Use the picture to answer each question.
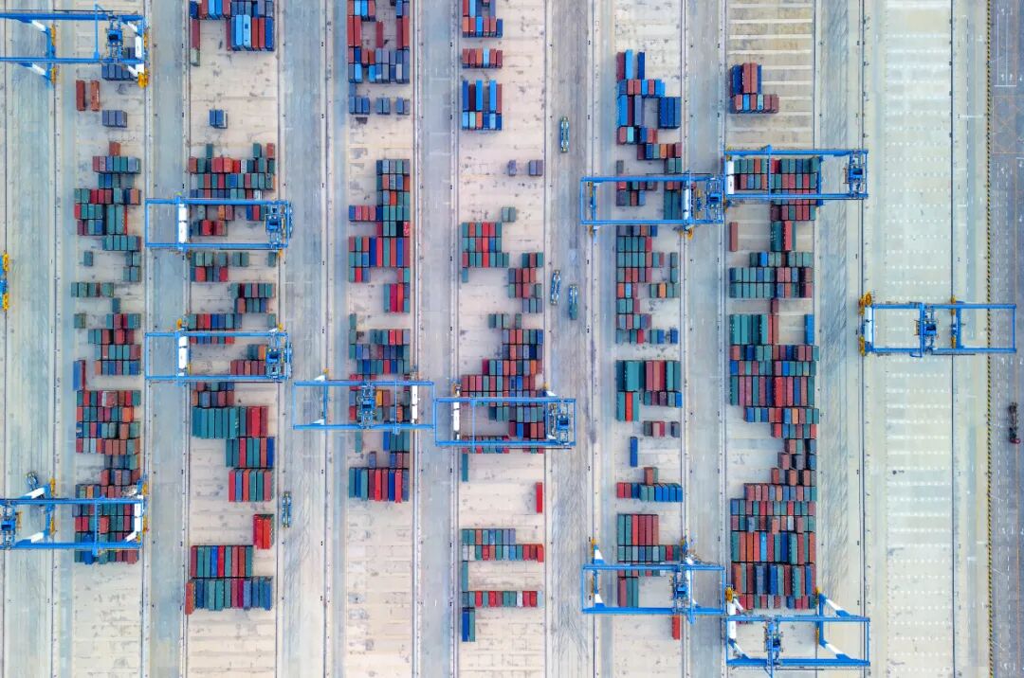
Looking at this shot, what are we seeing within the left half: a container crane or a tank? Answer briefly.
container crane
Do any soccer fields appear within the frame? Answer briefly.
No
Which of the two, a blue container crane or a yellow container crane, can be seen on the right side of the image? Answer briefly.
blue container crane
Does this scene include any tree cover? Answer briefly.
No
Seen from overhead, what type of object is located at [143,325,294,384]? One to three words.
container crane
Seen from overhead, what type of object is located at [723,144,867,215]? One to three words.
container crane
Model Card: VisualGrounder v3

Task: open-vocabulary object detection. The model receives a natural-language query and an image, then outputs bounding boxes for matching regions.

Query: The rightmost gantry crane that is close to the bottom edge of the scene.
[724,584,868,678]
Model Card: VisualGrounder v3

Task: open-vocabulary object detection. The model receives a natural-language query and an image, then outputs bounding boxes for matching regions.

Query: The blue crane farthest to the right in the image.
[861,291,1017,358]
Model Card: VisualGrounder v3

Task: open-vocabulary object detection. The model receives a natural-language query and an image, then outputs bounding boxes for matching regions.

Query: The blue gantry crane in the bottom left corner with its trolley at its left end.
[0,481,148,552]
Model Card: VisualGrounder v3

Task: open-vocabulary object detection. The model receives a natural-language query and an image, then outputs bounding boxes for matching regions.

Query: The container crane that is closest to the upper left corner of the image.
[0,2,149,95]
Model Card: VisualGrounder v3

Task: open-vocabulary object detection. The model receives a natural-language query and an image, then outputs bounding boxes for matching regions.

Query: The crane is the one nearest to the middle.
[434,386,576,449]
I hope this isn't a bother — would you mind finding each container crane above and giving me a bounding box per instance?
[724,584,868,678]
[723,144,867,215]
[861,291,1017,358]
[581,171,724,247]
[0,481,148,552]
[293,371,435,433]
[434,386,576,449]
[143,325,294,384]
[581,541,724,623]
[143,196,289,261]
[0,2,149,95]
